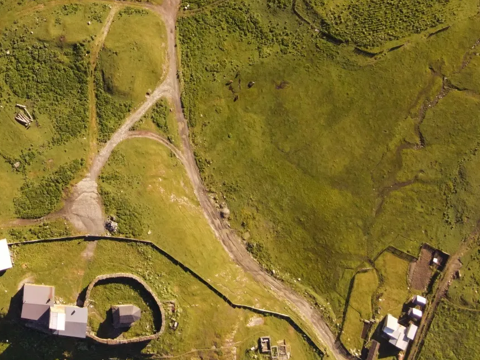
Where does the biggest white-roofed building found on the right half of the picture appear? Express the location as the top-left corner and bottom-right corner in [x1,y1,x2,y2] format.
[377,307,409,349]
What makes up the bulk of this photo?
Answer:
grass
